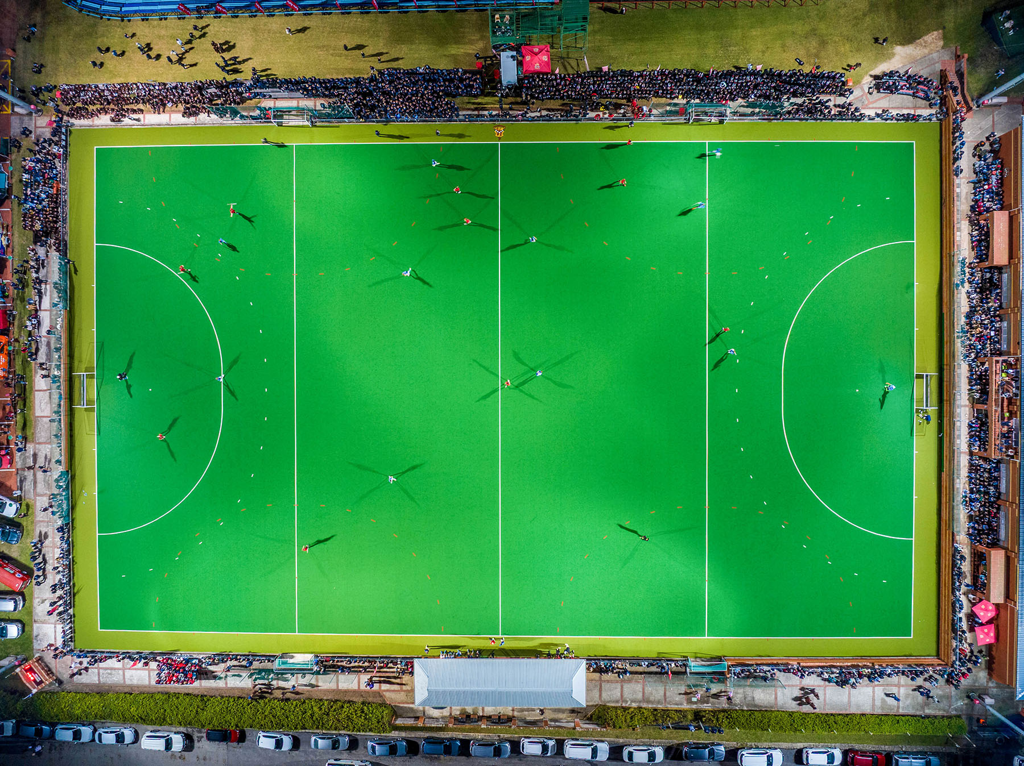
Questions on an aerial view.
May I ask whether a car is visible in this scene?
Yes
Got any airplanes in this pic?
No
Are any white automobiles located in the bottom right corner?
Yes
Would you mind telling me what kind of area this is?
sports ground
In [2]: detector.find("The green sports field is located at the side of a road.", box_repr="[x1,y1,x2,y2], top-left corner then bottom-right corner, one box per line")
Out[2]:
[68,121,942,658]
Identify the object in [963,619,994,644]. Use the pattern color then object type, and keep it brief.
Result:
pink gazebo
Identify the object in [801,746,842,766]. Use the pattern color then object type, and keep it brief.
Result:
white car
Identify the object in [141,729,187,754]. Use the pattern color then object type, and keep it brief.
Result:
white car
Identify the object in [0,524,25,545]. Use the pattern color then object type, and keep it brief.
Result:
blue car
